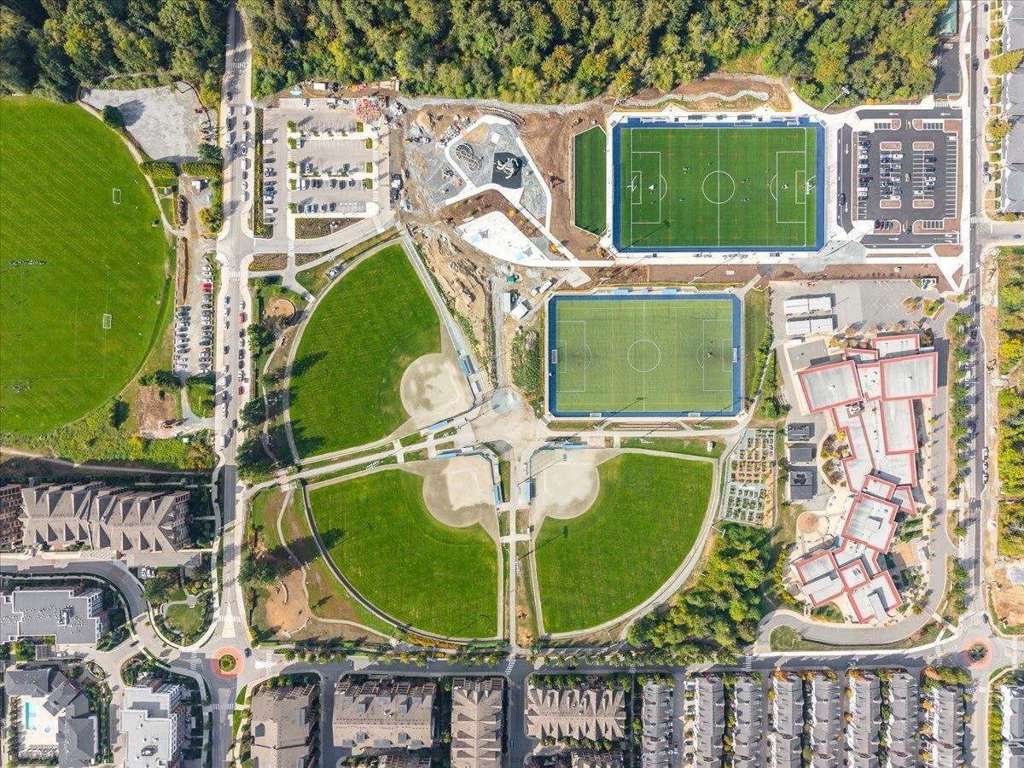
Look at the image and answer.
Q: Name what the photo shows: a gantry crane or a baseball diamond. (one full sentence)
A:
The image shows a baseball diamond.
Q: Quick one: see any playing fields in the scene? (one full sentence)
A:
Yes, looking at the shot, I can spot a playing field.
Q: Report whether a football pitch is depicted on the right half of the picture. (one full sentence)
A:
Yes, a football pitch shows up on the right half of the picture.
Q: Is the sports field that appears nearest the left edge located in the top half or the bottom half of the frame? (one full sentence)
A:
Seen from above, the sports field that appears nearest the left edge lies in the top half of the view.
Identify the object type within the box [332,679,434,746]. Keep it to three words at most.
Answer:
building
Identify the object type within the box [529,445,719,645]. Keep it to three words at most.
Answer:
baseball field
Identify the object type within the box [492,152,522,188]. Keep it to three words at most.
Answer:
playground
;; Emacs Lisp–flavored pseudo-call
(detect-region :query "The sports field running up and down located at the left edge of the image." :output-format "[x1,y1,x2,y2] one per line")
[0,96,169,437]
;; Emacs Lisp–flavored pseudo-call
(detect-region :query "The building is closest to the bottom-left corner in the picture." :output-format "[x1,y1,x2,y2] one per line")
[6,666,99,768]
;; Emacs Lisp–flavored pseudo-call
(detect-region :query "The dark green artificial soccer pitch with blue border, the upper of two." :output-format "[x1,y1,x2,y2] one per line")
[613,118,826,252]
